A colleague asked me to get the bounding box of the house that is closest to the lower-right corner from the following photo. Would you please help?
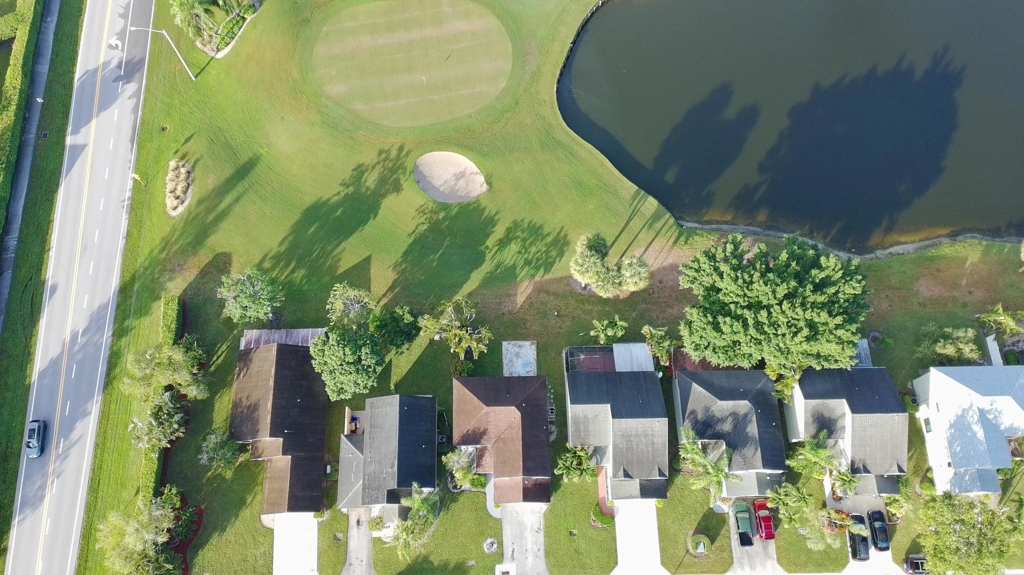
[911,365,1024,496]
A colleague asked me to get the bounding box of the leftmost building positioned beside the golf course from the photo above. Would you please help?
[230,327,331,515]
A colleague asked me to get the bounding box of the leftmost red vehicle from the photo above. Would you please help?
[753,500,775,541]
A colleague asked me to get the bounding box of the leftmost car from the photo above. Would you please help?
[24,420,48,458]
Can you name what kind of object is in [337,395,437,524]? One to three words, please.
house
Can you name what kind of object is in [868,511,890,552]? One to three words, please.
car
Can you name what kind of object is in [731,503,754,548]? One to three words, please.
truck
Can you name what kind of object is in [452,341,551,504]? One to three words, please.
house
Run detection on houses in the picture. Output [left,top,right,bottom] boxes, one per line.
[452,341,551,504]
[566,343,668,502]
[790,368,908,497]
[230,327,331,515]
[672,370,787,498]
[911,365,1024,496]
[337,395,437,524]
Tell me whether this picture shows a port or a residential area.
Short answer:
residential area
